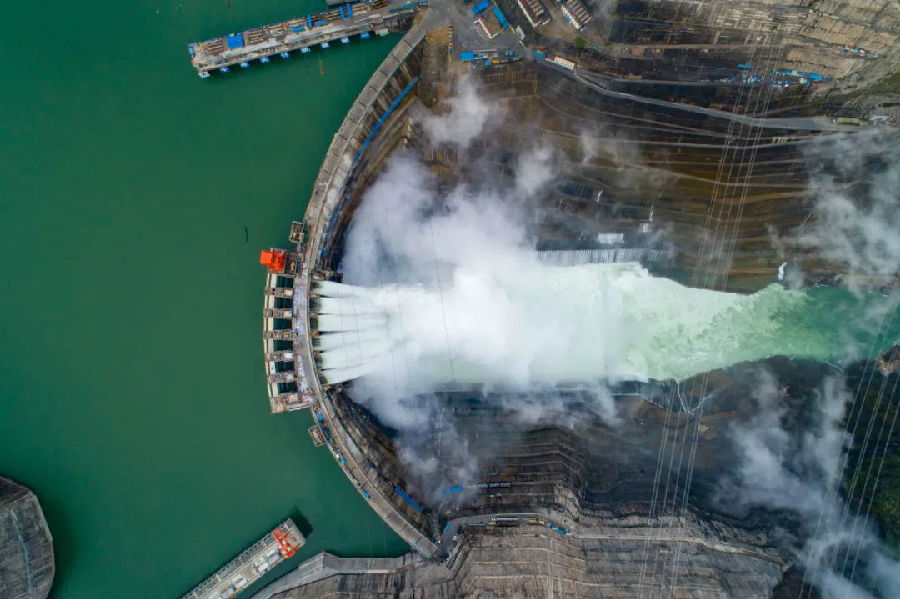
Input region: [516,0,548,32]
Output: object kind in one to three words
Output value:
building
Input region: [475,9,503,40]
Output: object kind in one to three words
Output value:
building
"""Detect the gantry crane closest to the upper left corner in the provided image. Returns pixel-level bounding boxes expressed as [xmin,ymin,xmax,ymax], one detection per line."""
[255,252,289,271]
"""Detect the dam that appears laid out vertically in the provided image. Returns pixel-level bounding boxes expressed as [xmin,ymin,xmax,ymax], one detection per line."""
[262,9,441,558]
